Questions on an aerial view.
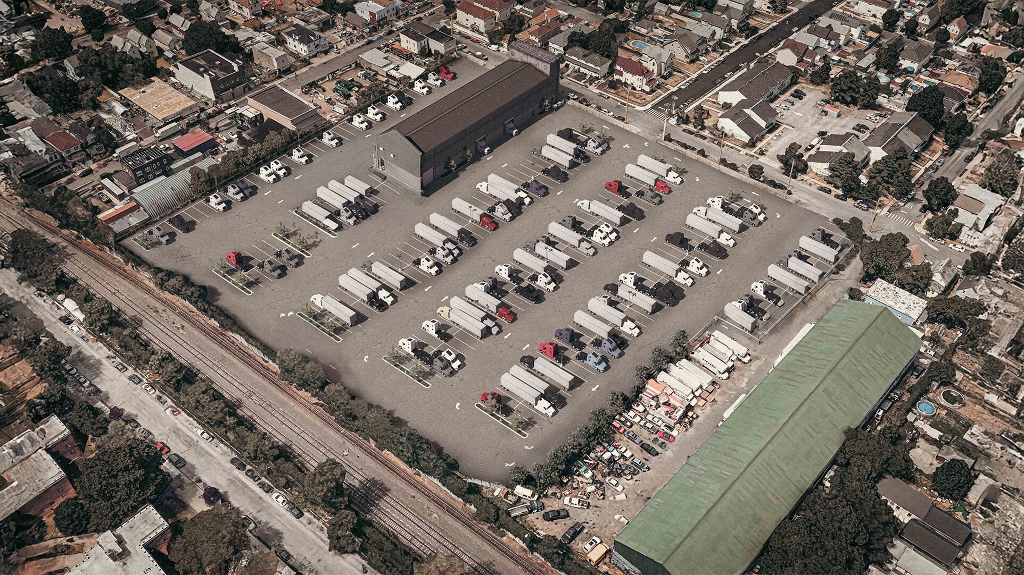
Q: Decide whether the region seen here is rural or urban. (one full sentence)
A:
The area shown here is urban.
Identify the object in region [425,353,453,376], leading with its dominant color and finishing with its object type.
gray truck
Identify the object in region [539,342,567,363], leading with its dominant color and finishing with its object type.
red truck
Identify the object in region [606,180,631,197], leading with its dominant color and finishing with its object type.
red vehicle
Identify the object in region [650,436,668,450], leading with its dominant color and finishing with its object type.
gray car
